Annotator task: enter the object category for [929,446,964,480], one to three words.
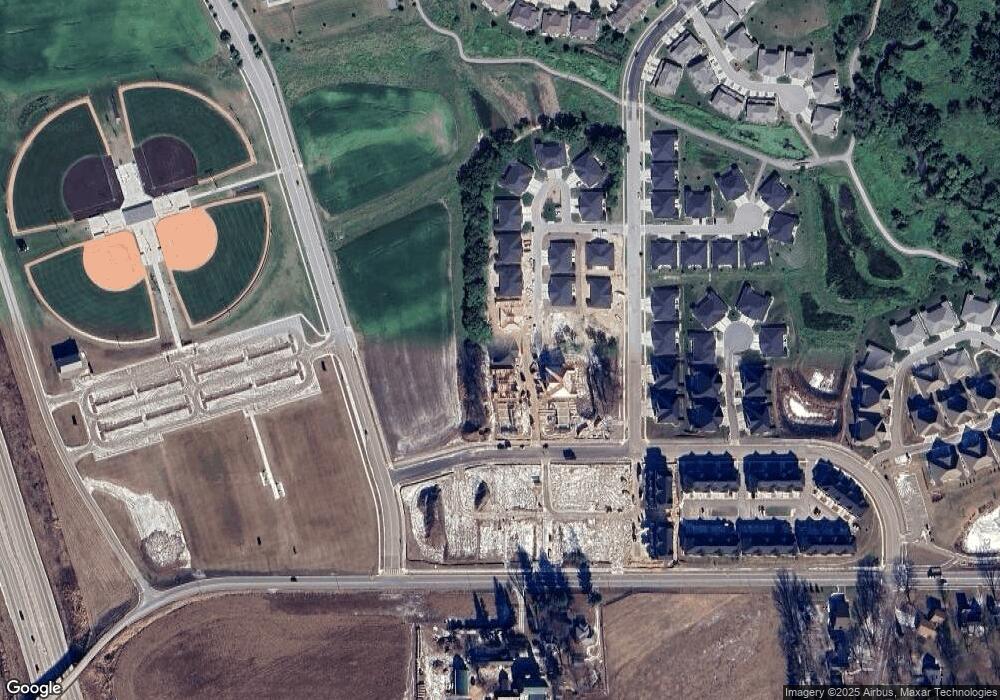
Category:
house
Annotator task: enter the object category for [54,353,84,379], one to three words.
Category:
barn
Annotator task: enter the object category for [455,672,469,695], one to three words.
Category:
shed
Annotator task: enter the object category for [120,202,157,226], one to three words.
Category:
building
